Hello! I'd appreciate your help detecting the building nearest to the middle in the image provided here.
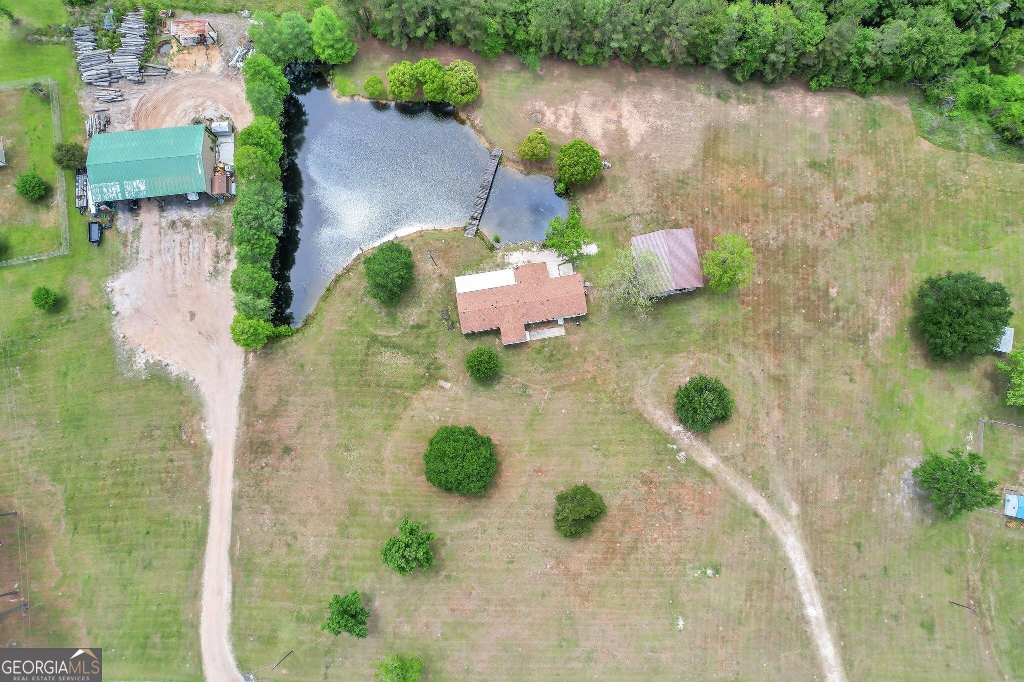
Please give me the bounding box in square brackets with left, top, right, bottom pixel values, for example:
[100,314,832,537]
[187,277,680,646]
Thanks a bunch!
[455,262,587,345]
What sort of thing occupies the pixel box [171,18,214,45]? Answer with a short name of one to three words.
shed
